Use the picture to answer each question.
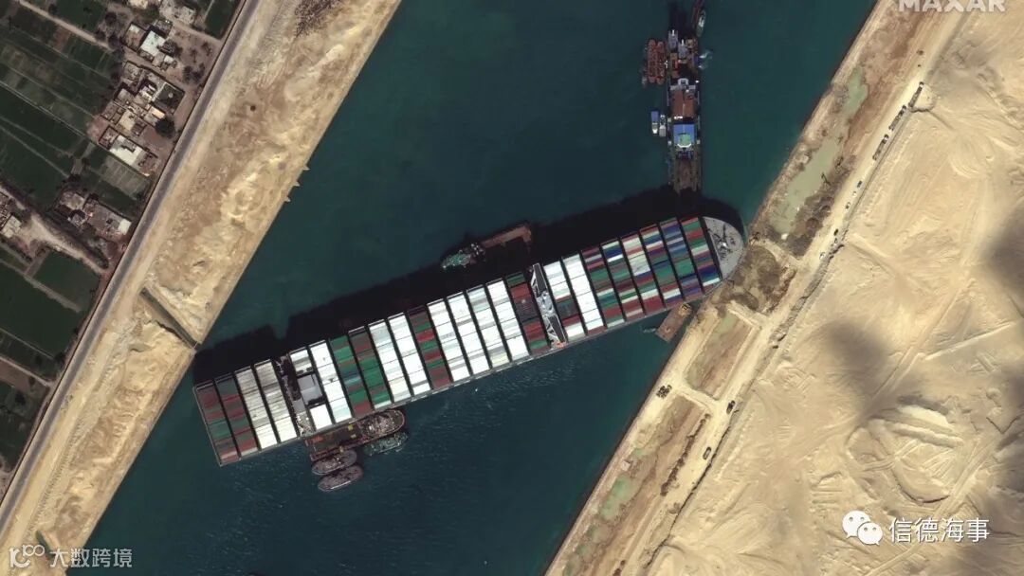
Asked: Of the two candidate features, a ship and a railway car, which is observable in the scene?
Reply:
ship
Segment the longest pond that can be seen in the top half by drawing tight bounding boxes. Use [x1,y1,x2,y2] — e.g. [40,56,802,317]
[772,135,845,234]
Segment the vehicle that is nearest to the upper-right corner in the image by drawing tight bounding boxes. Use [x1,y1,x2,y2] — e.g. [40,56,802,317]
[910,82,923,107]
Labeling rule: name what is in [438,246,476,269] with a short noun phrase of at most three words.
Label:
boat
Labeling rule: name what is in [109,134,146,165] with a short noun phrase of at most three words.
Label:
house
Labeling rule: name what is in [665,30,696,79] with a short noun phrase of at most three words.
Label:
ship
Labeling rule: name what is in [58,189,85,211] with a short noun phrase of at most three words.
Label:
house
